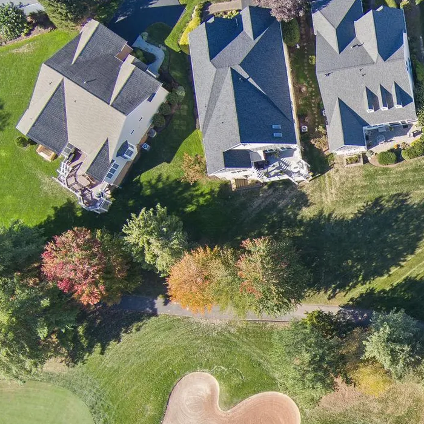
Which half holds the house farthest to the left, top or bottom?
top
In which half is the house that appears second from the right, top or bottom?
top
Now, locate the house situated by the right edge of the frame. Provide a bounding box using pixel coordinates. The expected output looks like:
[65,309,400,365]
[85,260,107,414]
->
[310,0,423,155]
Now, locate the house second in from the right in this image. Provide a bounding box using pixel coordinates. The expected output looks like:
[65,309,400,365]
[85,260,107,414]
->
[188,0,315,188]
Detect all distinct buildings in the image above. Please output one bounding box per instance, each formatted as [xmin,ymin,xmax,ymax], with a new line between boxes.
[310,0,423,155]
[15,19,171,217]
[188,0,315,188]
